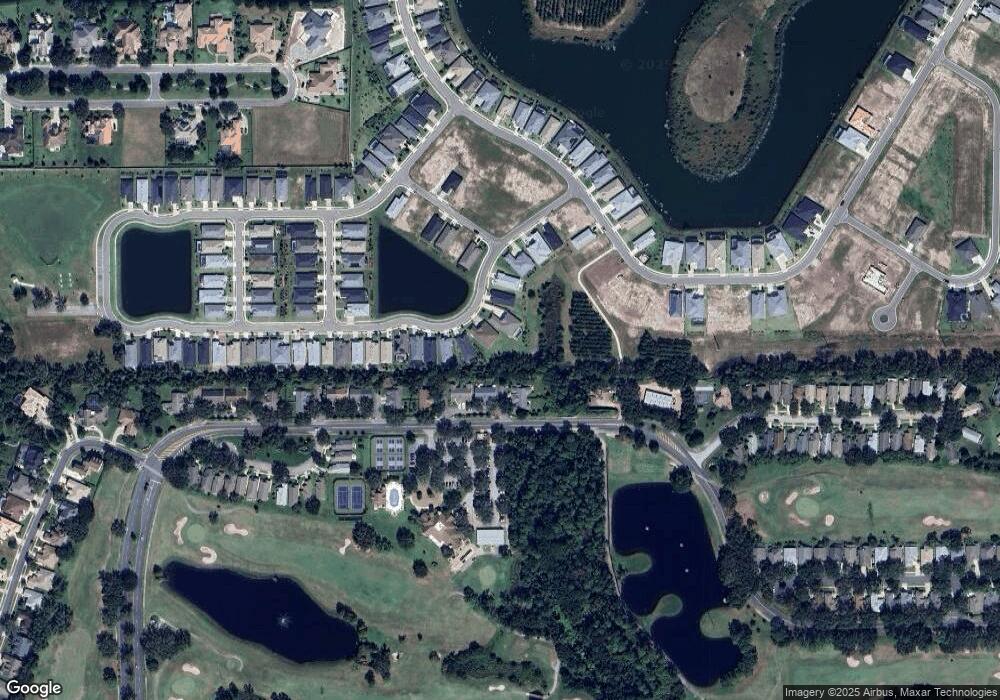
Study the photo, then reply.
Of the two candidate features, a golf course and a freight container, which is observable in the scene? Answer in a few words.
golf course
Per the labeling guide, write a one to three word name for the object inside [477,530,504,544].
building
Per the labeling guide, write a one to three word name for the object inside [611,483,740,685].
pond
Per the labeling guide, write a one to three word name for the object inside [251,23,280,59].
house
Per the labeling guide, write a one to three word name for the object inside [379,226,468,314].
pond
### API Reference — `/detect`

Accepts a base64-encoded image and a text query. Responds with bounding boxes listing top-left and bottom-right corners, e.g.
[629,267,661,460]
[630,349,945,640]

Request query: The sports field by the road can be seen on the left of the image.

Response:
[0,183,104,265]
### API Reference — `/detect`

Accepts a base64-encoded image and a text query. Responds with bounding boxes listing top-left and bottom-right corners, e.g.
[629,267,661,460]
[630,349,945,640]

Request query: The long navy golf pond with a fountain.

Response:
[163,562,357,662]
